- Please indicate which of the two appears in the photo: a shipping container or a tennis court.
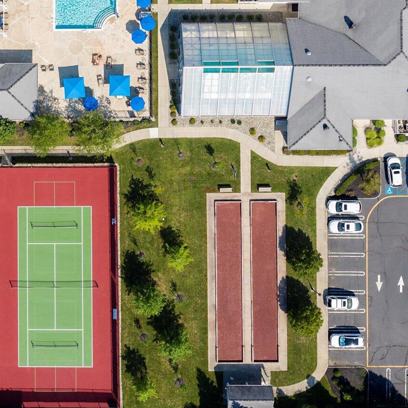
tennis court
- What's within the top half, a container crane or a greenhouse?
greenhouse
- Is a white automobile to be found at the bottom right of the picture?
Yes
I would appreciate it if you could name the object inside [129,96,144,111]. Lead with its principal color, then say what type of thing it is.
blue umbrella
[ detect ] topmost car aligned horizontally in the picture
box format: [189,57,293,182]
[327,199,361,216]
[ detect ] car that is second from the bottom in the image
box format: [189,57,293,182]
[326,295,358,311]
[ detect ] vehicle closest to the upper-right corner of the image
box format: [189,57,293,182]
[387,157,404,187]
